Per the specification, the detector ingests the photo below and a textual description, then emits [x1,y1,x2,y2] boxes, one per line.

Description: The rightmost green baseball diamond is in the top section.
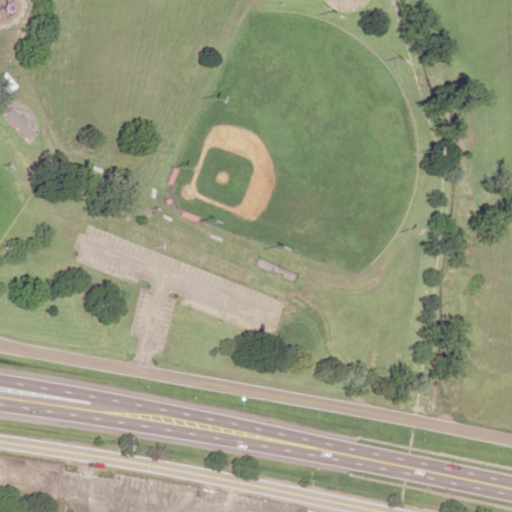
[168,0,420,274]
